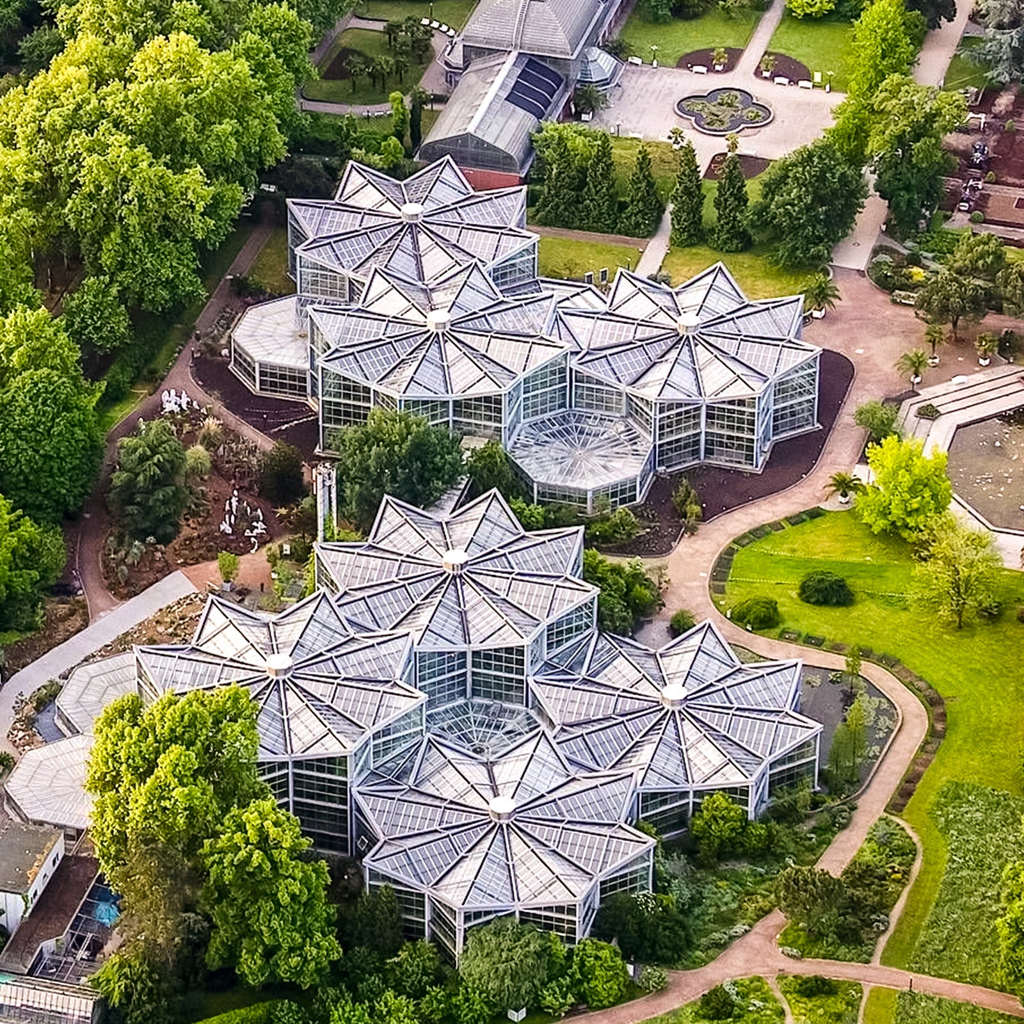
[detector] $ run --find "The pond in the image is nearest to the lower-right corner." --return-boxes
[780,662,896,815]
